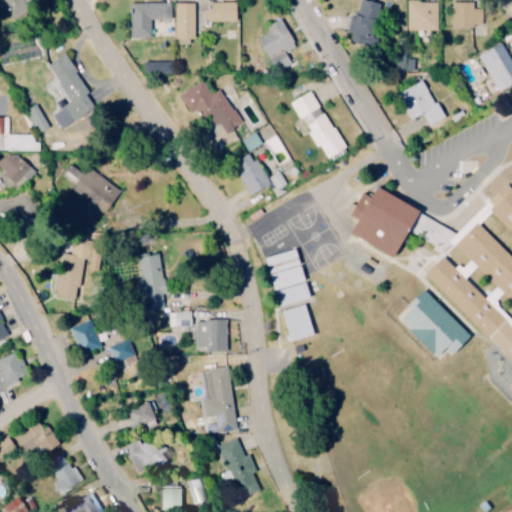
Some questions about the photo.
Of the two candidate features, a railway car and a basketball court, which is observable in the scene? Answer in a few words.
basketball court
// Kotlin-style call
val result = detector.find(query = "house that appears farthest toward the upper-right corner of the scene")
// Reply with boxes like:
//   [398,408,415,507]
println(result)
[454,1,486,30]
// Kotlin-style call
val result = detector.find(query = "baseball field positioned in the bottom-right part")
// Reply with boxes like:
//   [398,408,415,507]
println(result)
[356,476,418,512]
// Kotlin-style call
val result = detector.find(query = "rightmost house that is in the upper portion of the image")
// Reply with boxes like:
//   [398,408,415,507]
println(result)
[478,40,512,94]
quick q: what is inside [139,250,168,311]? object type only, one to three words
house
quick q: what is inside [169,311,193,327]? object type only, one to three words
building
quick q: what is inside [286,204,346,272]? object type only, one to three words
basketball court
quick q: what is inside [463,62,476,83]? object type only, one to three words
swimming pool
